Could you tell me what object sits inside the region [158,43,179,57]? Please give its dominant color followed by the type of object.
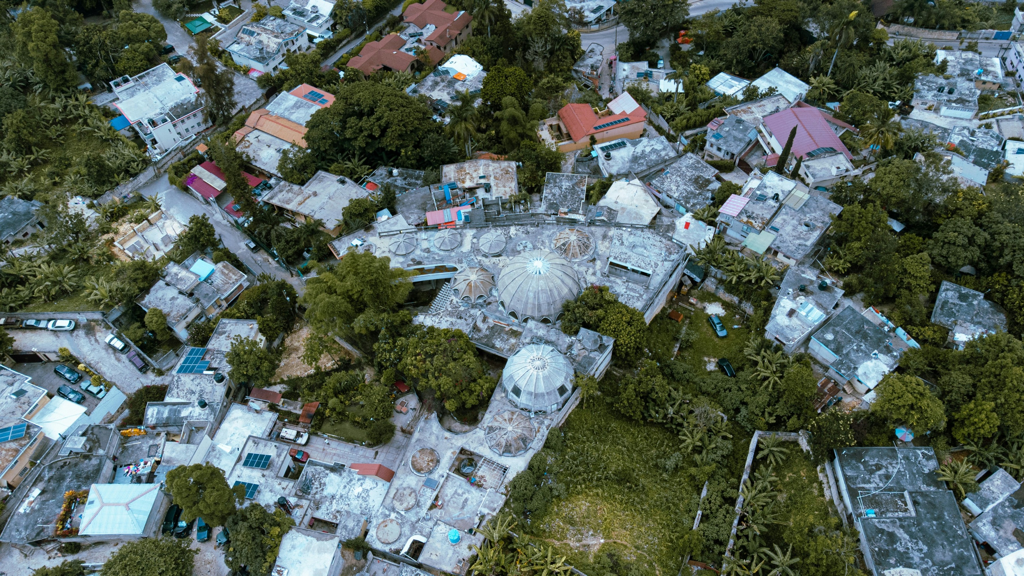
black car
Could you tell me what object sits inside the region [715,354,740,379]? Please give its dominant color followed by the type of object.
black car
